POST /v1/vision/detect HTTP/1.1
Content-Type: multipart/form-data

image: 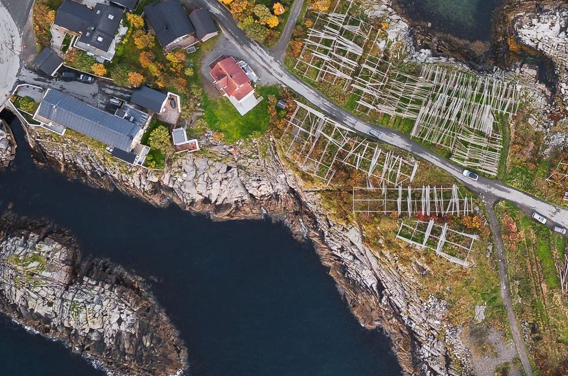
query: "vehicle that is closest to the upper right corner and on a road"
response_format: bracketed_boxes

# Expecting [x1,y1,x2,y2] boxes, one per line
[461,169,480,182]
